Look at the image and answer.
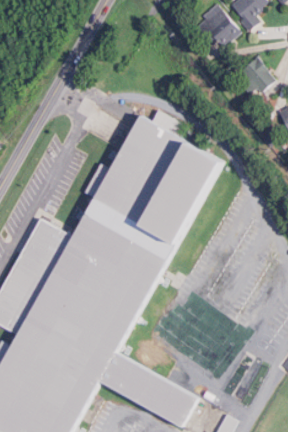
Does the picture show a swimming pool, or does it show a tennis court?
tennis court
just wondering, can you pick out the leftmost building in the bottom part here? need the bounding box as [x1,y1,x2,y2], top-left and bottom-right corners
[0,108,227,432]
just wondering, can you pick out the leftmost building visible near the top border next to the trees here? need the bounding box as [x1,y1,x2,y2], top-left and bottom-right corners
[202,3,242,48]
